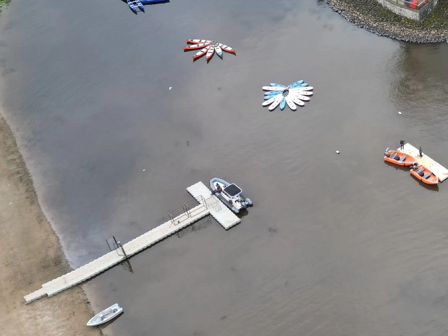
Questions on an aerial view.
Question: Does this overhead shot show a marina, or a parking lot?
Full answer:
The picture captures a marina.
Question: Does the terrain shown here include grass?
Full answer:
No, there's no grass in this view.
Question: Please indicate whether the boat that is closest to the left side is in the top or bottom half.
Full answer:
The bottom half of the photo is where the boat that is closest to the left side is.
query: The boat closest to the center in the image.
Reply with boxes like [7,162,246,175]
[209,177,254,214]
